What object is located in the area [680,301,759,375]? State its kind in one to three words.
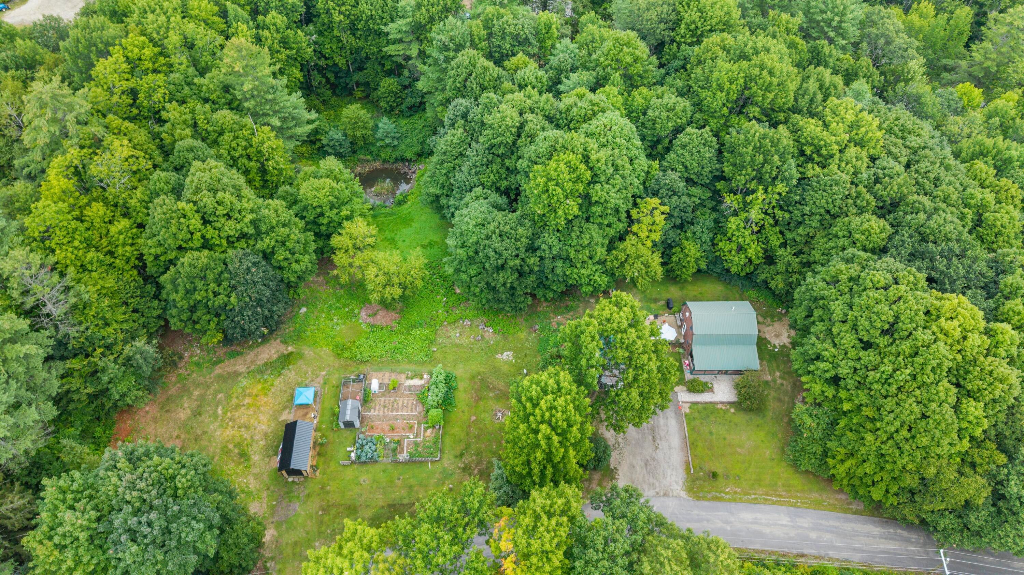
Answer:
house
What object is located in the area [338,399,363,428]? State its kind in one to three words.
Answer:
shed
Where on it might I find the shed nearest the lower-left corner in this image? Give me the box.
[277,419,316,480]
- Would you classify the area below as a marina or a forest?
forest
